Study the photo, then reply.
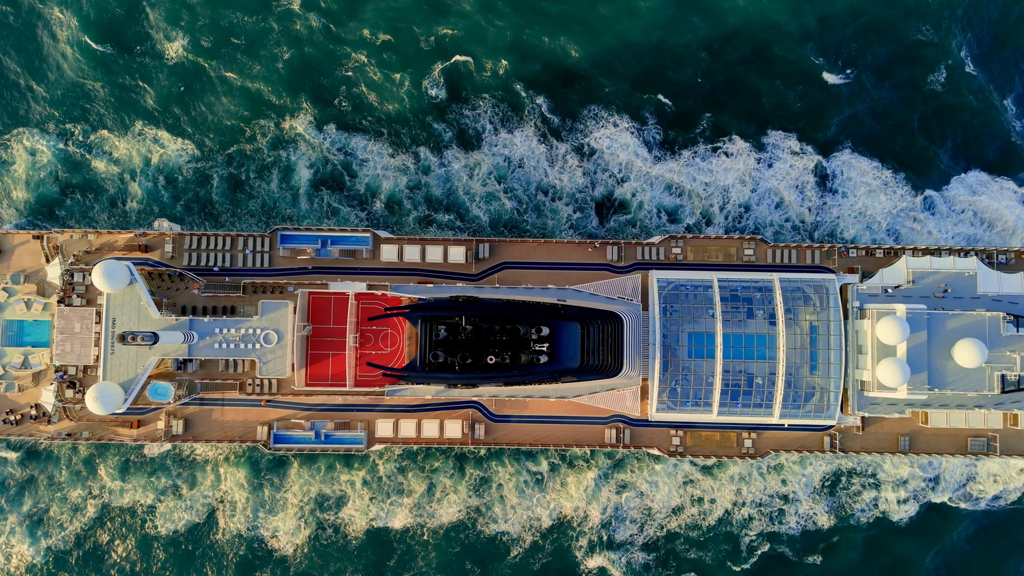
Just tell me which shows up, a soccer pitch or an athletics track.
athletics track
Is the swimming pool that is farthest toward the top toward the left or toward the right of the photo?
left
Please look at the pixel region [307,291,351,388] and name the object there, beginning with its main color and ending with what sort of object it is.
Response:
red sports court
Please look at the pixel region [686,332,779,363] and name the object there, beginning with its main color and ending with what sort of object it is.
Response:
blue swimming pool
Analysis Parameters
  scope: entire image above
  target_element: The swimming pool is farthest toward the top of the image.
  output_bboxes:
[277,231,373,259]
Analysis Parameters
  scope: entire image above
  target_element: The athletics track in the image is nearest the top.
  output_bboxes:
[92,257,840,282]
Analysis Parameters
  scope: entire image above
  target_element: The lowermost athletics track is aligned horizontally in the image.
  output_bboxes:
[109,397,838,433]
